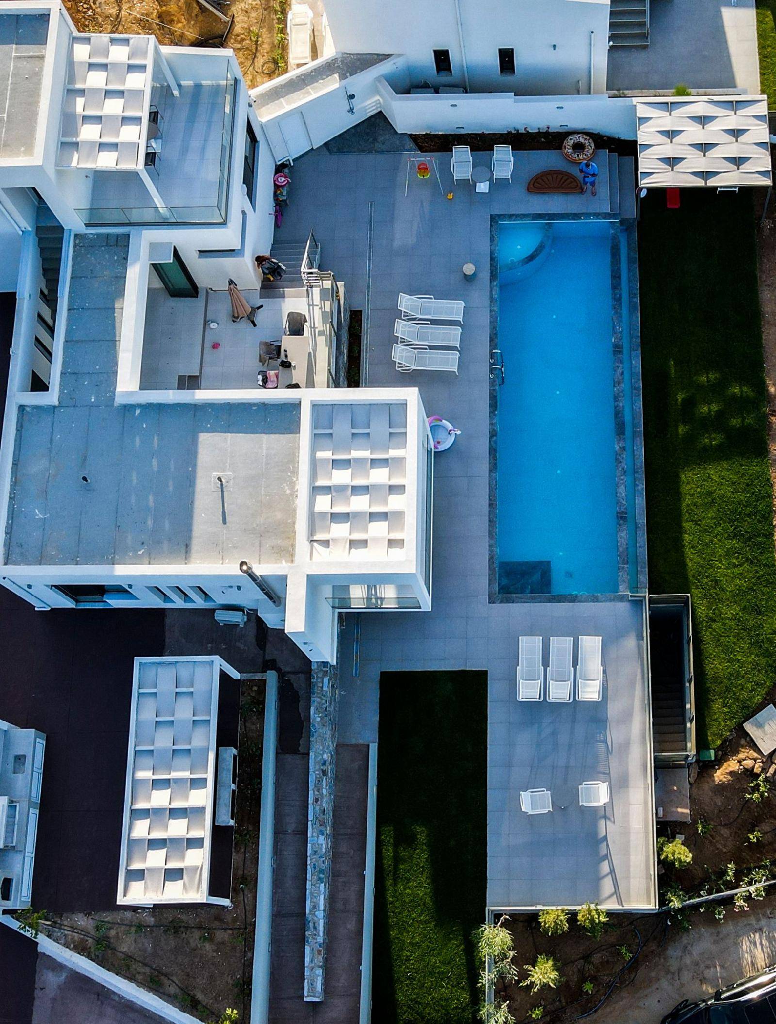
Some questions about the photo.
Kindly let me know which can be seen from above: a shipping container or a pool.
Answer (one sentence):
It is a pool that can be seen here.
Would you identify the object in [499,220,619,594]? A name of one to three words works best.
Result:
swimming pool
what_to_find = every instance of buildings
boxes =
[319,0,611,95]
[0,0,432,670]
